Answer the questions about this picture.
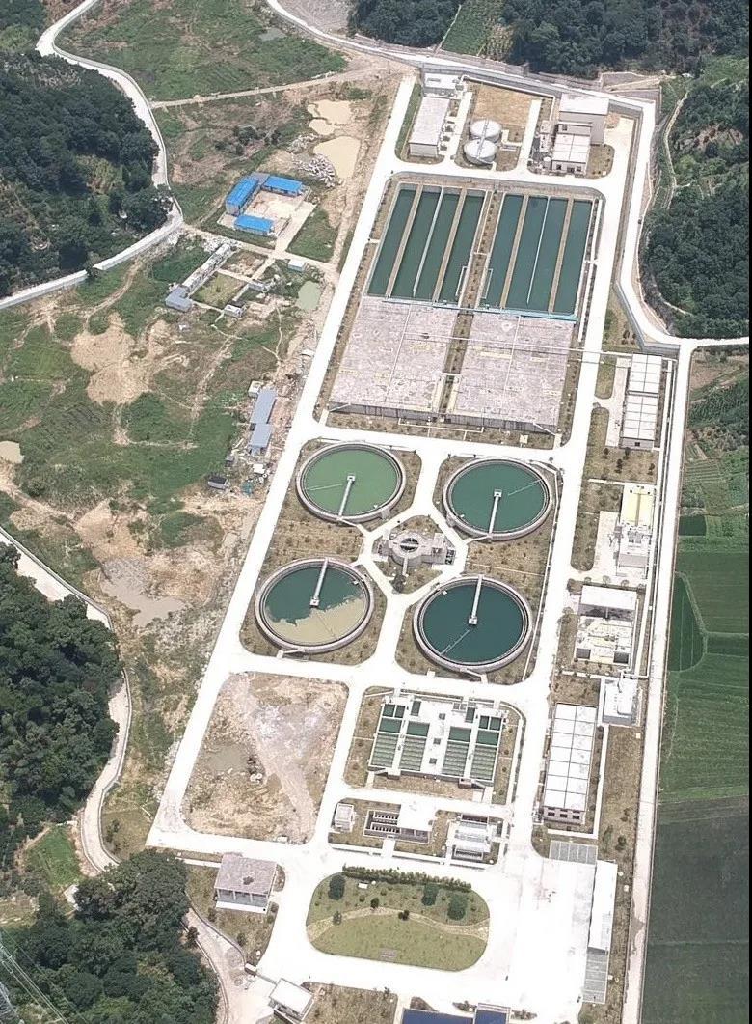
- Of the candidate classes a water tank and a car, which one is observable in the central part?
water tank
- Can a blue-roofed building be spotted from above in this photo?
Yes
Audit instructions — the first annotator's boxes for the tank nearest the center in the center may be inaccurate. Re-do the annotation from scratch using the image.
[296,441,406,531]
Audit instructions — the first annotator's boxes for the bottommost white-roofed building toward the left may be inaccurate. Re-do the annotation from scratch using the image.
[268,977,313,1019]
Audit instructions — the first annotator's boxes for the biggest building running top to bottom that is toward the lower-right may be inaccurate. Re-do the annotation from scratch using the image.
[544,702,597,821]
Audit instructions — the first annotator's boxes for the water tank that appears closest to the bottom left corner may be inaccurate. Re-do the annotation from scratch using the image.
[256,557,374,655]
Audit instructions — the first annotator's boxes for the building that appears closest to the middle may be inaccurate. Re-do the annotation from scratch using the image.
[372,527,474,576]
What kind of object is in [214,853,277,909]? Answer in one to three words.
house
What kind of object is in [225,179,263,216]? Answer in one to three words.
building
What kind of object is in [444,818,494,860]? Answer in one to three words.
building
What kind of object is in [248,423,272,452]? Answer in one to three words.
shed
